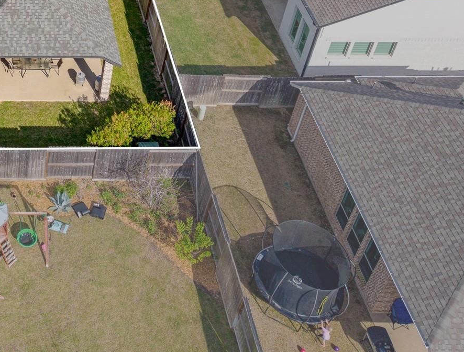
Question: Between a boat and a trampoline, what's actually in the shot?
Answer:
trampoline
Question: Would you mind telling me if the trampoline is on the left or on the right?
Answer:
right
